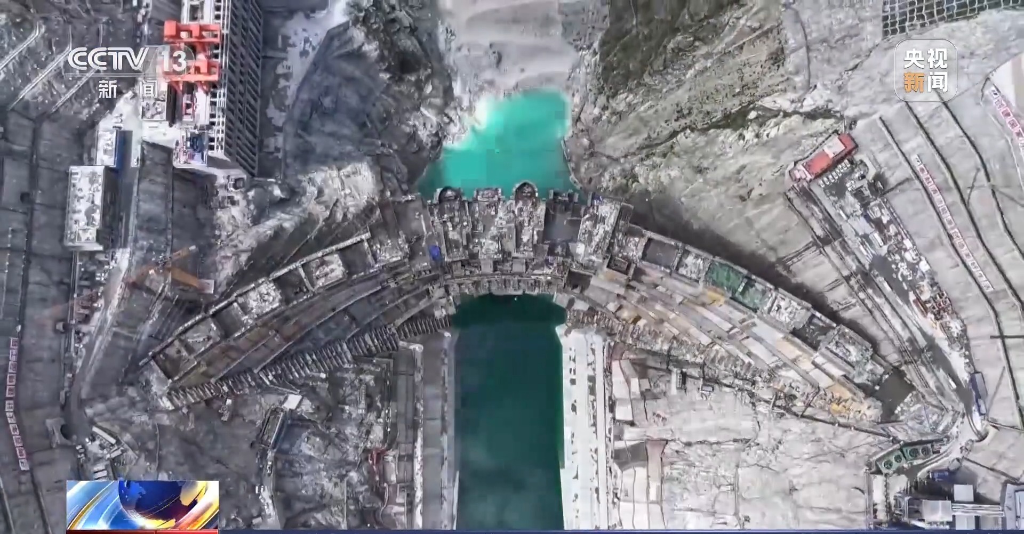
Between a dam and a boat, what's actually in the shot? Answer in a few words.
dam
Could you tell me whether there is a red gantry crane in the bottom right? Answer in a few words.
No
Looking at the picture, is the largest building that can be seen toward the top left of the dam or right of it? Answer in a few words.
on the left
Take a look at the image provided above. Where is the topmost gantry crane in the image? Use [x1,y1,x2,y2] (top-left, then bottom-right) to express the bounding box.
[161,18,225,56]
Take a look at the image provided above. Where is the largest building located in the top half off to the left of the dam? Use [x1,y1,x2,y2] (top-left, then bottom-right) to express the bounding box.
[63,165,117,250]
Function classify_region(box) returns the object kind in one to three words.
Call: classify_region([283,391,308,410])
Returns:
shed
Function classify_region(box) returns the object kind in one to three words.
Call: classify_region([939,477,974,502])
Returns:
building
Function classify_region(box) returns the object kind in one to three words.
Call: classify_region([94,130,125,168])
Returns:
building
